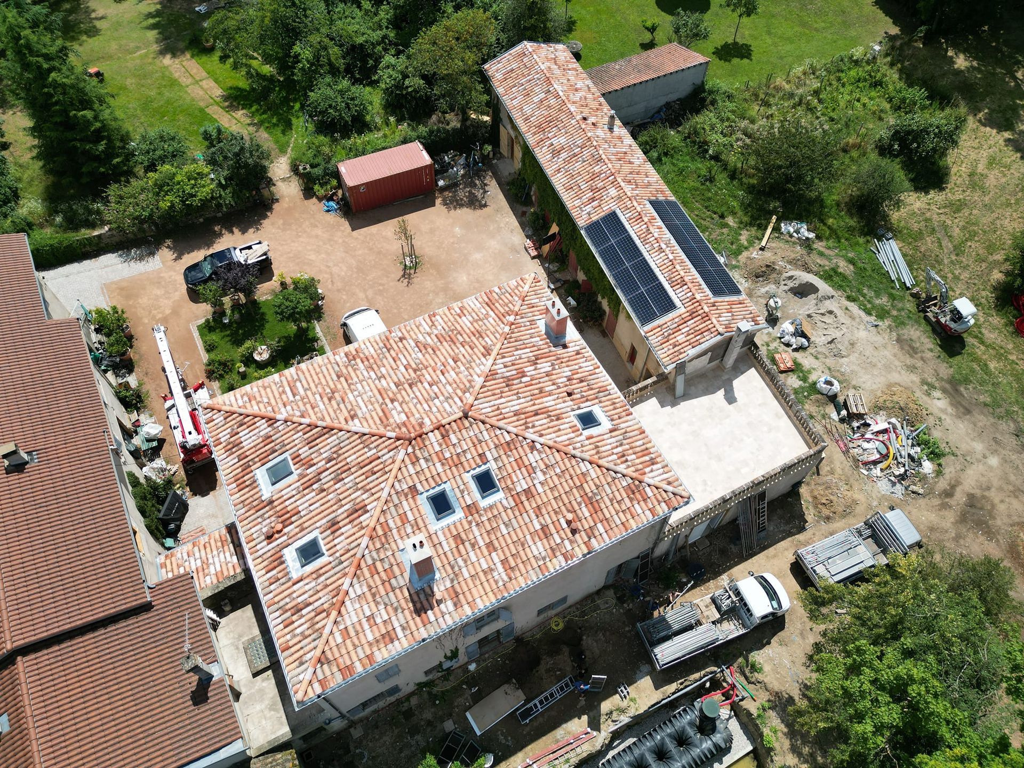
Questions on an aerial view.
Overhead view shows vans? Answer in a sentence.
Yes, the image includes a van.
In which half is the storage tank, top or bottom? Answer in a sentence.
The storage tank sits in the bottom half of the picture.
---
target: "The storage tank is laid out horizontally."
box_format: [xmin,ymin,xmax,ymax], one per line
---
[590,702,732,768]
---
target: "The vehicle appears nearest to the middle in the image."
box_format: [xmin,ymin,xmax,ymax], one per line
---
[343,307,385,340]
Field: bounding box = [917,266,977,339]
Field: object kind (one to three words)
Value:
work vehicle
